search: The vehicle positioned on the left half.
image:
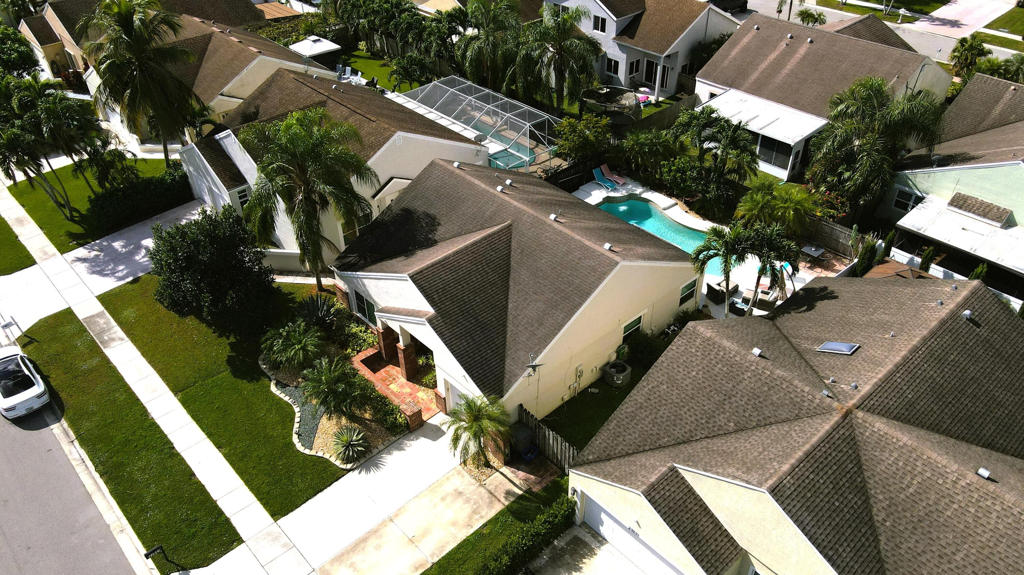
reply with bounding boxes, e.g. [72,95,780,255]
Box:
[0,343,49,423]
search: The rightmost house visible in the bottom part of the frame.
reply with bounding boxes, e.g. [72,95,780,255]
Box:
[570,277,1024,575]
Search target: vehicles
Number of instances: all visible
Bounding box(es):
[0,343,49,423]
[700,0,758,15]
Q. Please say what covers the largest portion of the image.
buildings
